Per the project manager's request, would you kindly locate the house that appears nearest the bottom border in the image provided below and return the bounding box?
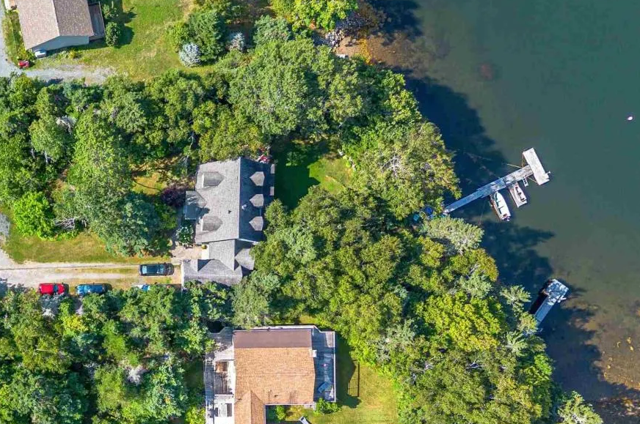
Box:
[203,325,335,424]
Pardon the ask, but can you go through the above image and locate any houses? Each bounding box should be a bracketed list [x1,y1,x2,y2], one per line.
[180,152,275,298]
[2,0,108,52]
[203,325,335,424]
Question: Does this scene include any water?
Yes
